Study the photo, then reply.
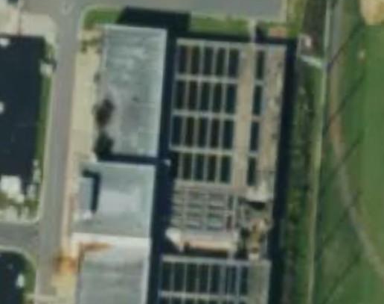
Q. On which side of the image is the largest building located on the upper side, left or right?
left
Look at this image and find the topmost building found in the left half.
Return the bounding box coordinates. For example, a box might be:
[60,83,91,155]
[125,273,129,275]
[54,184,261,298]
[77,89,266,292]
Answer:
[94,26,166,164]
